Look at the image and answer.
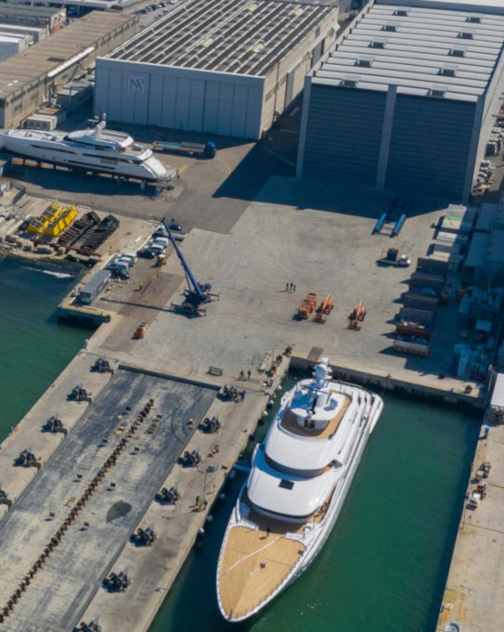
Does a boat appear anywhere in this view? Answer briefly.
Yes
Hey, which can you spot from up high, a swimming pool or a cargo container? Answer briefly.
cargo container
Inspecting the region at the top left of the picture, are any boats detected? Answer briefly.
Yes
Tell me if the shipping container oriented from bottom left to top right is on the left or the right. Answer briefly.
left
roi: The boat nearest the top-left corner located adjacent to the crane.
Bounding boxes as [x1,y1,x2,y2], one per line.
[0,107,190,195]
